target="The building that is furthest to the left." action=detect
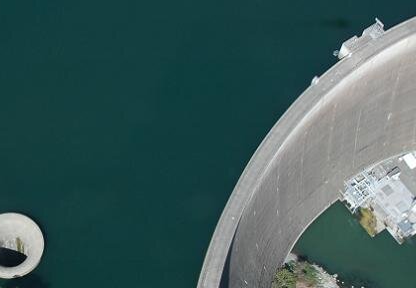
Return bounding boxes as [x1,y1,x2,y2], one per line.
[333,35,363,65]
